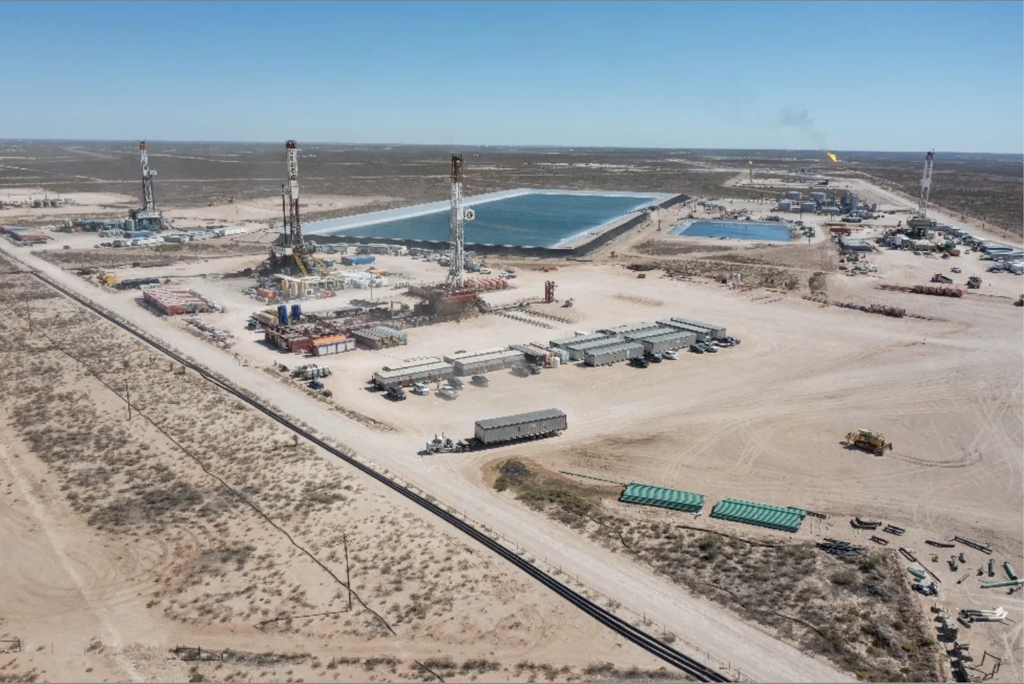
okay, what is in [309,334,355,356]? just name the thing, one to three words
building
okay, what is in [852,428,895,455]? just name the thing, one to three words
work vehicle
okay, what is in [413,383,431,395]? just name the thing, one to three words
vehicle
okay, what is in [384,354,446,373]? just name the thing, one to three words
house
